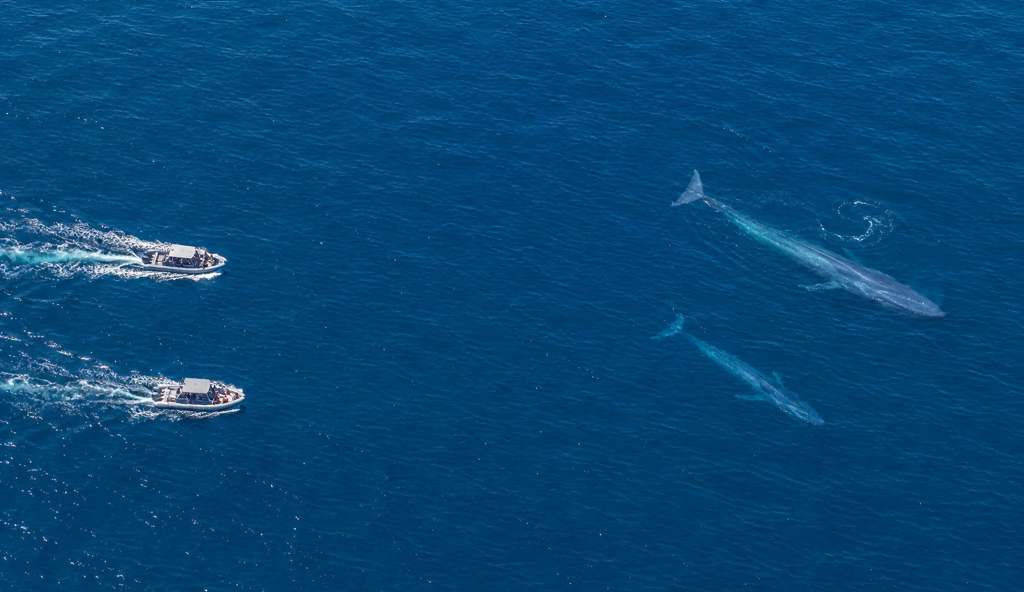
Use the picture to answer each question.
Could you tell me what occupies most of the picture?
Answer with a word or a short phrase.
water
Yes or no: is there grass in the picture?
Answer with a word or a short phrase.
No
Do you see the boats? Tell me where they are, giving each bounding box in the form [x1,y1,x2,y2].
[141,239,226,271]
[152,373,244,408]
